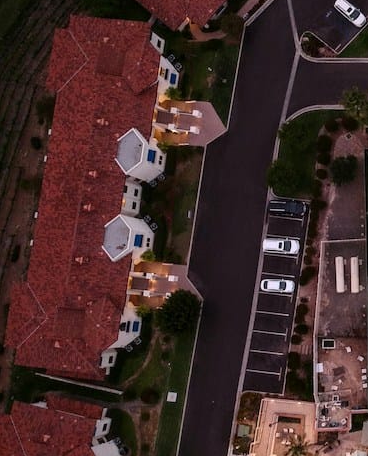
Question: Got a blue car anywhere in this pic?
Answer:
No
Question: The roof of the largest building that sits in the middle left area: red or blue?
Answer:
red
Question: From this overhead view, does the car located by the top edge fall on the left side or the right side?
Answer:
right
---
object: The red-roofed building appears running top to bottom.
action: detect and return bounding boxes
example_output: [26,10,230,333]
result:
[3,16,179,380]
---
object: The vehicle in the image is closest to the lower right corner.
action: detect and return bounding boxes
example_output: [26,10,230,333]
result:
[261,279,294,294]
